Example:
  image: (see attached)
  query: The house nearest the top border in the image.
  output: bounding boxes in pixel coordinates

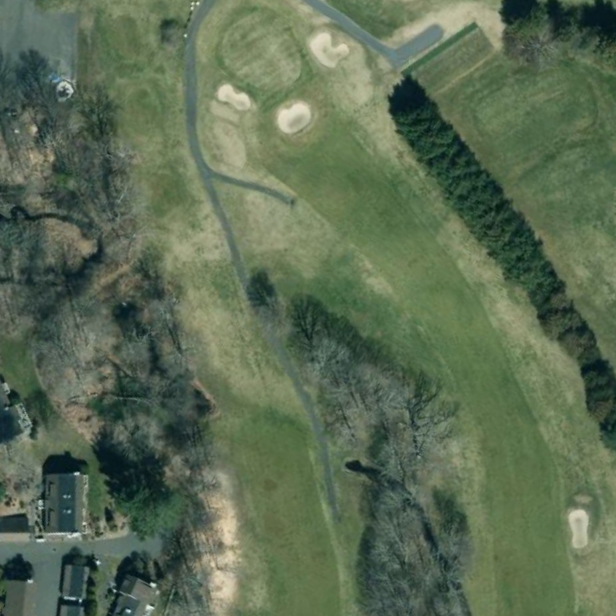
[0,380,34,454]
